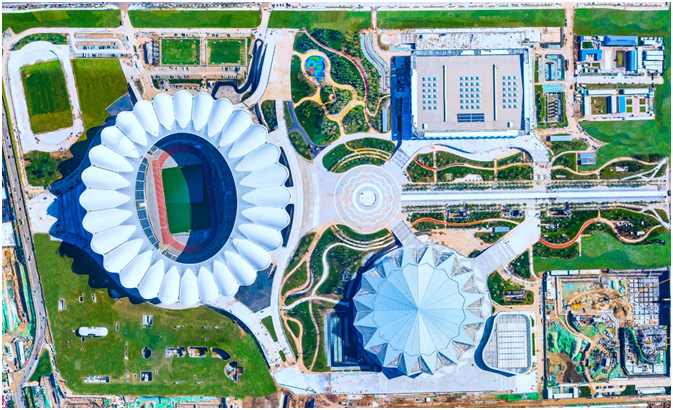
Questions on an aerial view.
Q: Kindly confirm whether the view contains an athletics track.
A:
Yes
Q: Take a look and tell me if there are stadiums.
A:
Yes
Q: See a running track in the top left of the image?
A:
Yes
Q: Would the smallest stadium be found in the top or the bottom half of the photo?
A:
bottom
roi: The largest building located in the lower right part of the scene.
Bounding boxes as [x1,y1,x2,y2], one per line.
[482,311,534,375]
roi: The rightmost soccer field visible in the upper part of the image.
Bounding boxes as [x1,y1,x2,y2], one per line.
[206,37,247,66]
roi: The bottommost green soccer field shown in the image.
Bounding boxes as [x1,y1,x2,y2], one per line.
[163,164,210,233]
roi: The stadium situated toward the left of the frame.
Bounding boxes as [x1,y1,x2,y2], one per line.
[80,90,291,309]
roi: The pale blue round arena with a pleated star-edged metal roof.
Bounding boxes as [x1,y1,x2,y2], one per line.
[354,246,482,375]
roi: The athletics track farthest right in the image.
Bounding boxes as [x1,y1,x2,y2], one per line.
[151,143,223,254]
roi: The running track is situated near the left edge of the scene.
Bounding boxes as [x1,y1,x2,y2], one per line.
[9,42,83,153]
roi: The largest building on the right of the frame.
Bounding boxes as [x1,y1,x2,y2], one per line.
[398,32,540,139]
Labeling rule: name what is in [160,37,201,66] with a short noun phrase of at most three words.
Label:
soccer field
